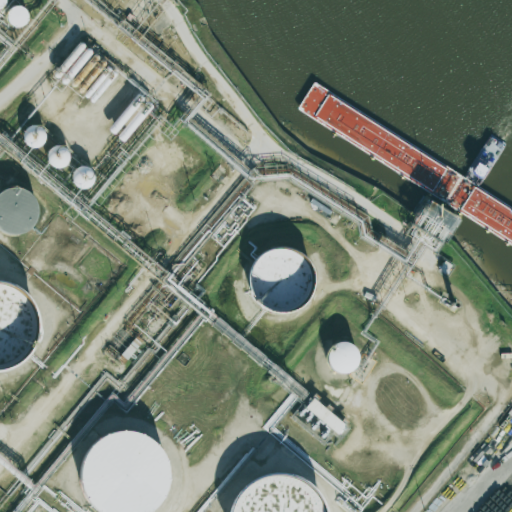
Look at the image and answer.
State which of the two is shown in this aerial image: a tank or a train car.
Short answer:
tank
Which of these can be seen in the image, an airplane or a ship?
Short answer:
ship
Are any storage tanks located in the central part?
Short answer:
Yes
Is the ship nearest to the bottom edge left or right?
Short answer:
right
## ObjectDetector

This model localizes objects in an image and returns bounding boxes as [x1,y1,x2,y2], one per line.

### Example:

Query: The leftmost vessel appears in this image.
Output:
[300,86,461,200]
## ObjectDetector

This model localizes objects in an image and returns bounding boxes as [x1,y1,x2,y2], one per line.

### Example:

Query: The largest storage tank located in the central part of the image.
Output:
[248,246,316,314]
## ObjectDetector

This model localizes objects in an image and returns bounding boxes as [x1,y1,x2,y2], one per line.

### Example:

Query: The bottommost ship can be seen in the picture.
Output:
[450,177,512,239]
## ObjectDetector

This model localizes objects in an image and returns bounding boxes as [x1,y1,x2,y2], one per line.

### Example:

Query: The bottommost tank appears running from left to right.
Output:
[232,469,328,512]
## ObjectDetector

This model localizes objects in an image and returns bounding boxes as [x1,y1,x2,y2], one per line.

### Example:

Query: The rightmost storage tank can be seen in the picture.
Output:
[326,338,361,376]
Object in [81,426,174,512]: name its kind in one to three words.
storage tank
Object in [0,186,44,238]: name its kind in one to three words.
storage tank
